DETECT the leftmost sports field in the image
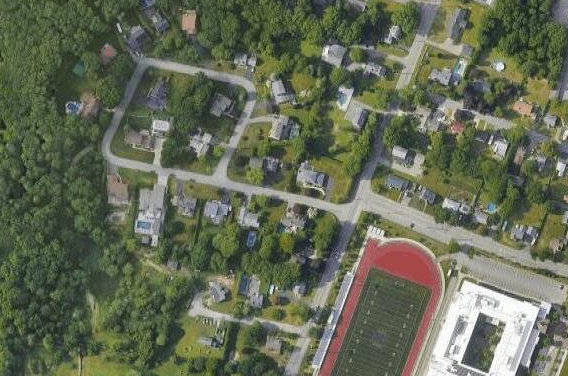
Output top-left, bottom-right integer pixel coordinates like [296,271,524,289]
[332,268,429,376]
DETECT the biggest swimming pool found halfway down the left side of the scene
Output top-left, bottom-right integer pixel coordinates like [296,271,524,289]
[135,215,154,234]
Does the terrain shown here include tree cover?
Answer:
Yes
